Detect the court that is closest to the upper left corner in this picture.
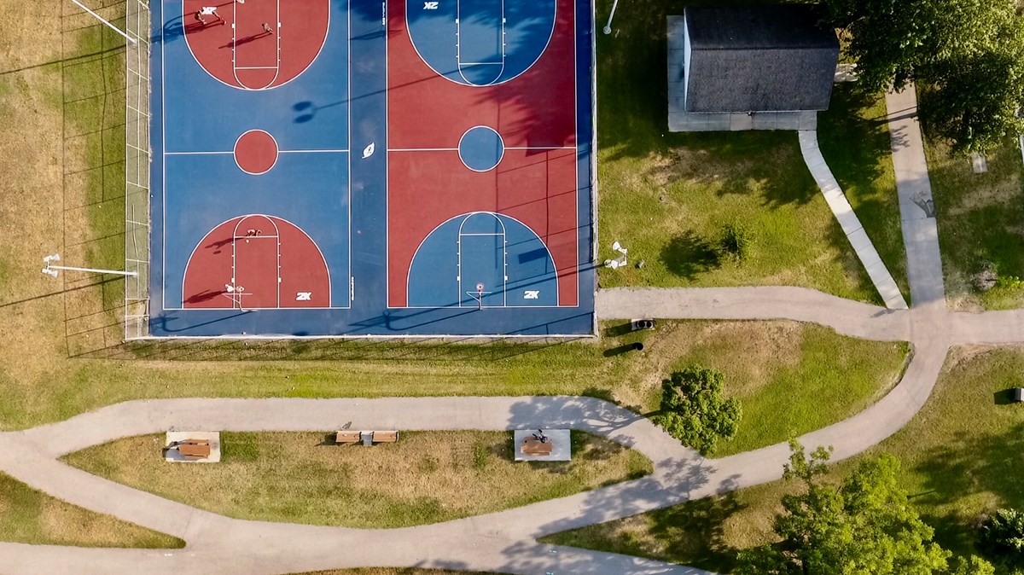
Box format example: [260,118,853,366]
[162,0,354,311]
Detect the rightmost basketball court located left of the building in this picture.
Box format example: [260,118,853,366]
[382,0,578,309]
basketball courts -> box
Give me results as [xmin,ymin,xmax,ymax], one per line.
[382,0,578,309]
[162,0,354,311]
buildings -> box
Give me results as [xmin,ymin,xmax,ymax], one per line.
[678,6,839,120]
